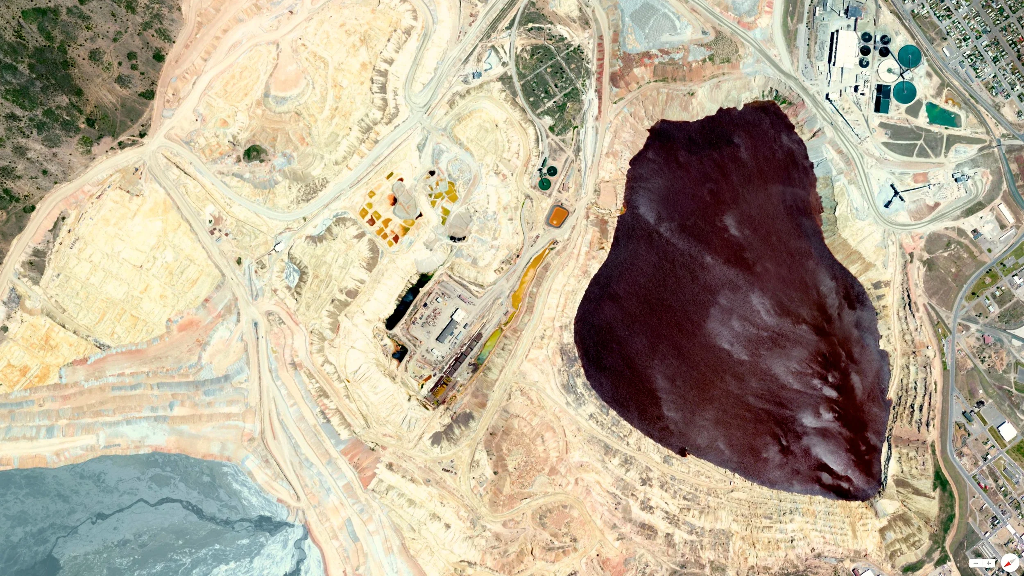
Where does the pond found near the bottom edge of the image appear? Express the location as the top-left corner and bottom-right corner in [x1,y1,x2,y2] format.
[0,451,325,576]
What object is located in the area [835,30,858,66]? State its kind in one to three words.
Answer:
building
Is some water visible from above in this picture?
Yes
